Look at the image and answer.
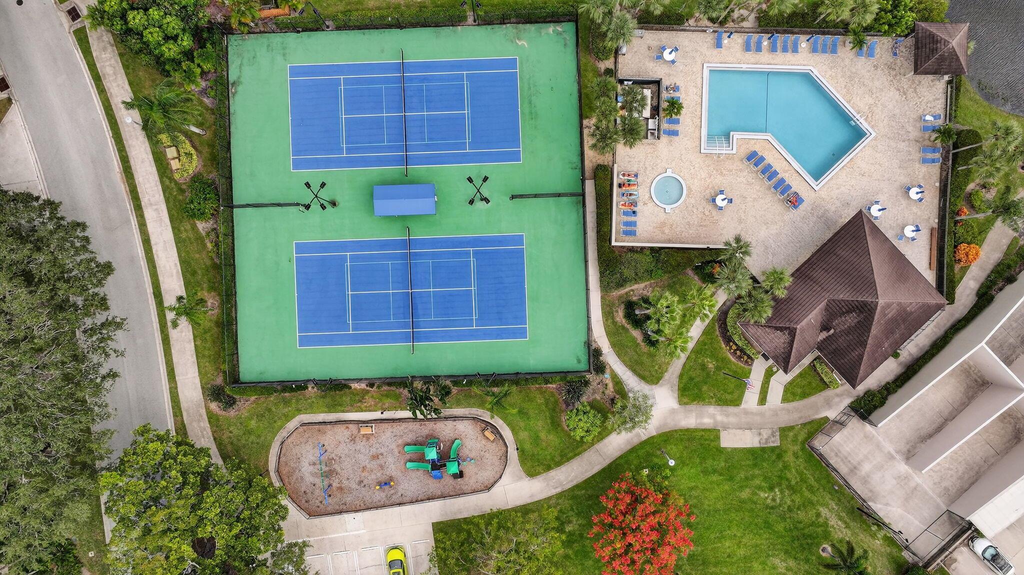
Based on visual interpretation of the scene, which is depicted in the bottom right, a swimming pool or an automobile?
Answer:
automobile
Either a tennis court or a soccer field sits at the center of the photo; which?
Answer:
tennis court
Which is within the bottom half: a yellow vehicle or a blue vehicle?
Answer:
yellow vehicle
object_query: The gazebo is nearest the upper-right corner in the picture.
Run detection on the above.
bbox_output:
[904,21,970,78]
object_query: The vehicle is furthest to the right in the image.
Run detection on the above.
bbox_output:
[967,536,1014,575]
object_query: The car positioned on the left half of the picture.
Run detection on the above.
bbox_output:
[384,546,407,575]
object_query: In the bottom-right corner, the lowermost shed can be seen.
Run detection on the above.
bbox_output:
[949,468,1024,538]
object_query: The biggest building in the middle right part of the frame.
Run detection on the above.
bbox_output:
[738,209,948,389]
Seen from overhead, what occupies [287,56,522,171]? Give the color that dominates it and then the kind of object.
blue tennis court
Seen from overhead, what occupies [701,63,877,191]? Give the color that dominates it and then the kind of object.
blue swimming pool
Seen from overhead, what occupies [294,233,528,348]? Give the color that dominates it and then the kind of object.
blue tennis court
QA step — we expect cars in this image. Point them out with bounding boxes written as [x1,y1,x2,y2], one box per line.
[967,536,1014,575]
[384,546,407,575]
